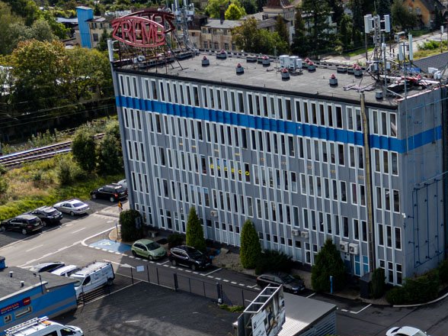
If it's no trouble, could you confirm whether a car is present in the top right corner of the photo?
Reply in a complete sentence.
No, I see no car in the top right corner of the photo.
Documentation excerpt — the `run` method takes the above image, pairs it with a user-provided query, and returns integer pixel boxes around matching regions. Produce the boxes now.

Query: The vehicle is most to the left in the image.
[0,211,42,234]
